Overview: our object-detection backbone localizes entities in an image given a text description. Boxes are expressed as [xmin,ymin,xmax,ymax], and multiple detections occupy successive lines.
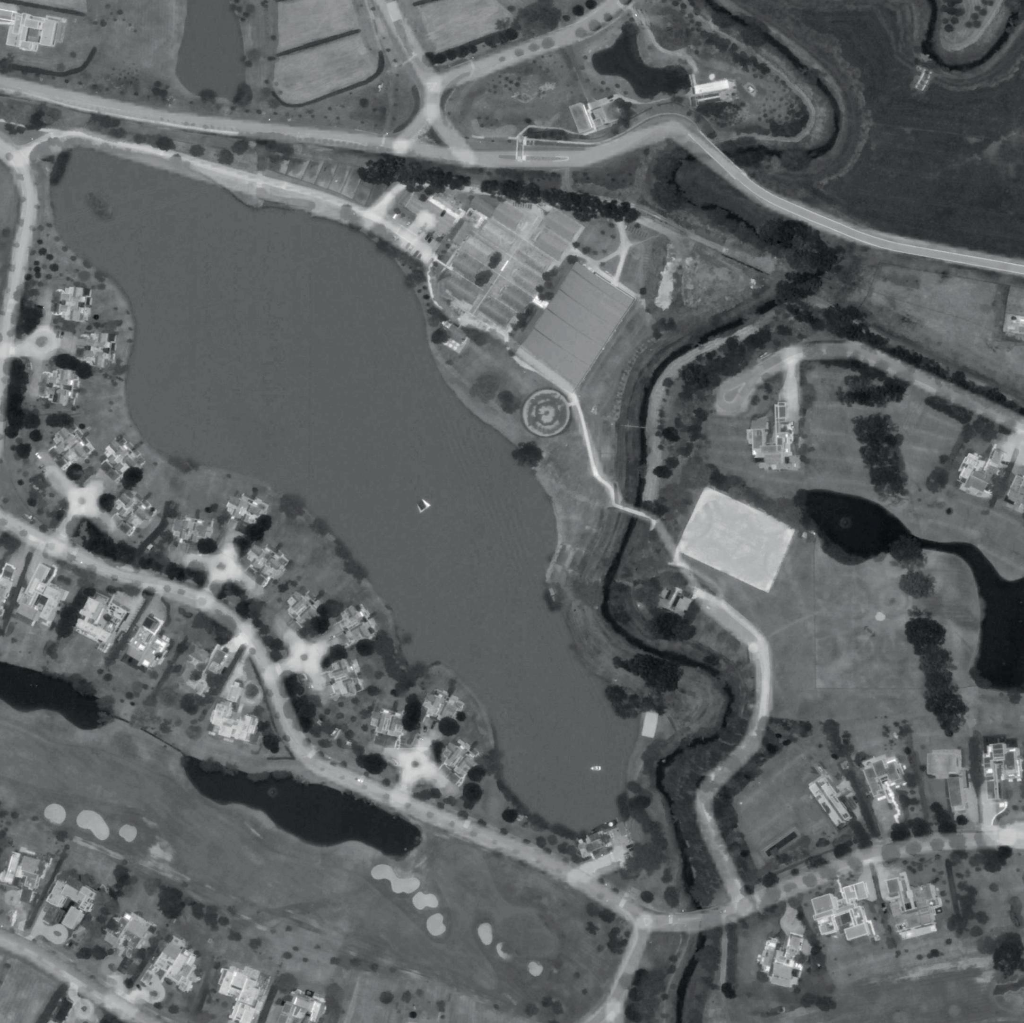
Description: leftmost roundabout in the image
[0,327,60,361]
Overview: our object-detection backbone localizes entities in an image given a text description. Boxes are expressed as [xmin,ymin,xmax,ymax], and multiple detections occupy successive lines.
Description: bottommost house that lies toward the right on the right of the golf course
[757,932,805,988]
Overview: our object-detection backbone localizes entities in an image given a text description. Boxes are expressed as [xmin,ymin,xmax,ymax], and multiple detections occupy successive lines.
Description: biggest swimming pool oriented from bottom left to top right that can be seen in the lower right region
[765,830,799,858]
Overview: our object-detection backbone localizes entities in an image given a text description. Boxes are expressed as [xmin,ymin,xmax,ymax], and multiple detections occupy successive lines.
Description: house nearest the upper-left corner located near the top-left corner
[0,5,66,51]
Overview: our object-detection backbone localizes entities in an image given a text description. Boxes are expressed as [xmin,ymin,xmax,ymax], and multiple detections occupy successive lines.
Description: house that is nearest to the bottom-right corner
[886,877,943,941]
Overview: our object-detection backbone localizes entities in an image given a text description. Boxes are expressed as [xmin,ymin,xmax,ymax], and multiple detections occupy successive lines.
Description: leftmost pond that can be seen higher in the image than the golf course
[0,662,113,730]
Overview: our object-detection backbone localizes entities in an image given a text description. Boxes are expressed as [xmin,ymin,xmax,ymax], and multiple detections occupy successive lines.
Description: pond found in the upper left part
[175,0,246,98]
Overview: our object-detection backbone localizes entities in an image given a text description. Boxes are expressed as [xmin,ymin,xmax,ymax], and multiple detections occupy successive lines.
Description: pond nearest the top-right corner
[592,23,691,99]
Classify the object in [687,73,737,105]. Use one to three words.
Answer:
building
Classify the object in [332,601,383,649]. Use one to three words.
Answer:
house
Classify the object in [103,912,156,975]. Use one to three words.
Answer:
house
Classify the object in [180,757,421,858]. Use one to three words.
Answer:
pond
